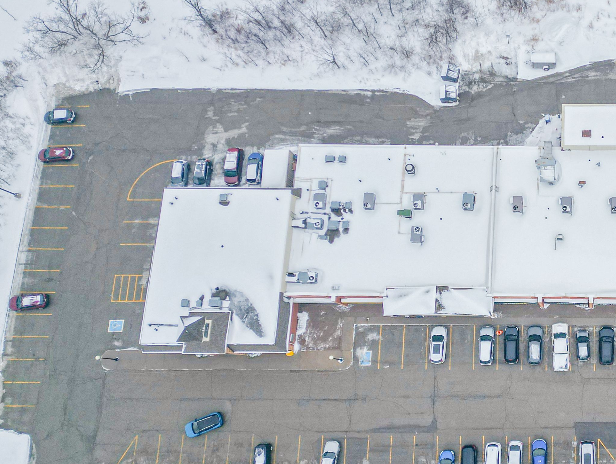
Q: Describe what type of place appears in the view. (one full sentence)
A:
The area seen from above is a parking lot.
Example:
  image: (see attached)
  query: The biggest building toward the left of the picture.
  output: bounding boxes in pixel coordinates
[138,187,307,356]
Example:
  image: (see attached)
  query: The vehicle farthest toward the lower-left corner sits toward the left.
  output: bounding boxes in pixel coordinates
[8,292,52,311]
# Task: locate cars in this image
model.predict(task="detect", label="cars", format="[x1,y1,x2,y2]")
[185,411,226,438]
[321,441,341,464]
[484,442,501,464]
[598,327,616,365]
[437,450,456,464]
[8,292,52,311]
[530,439,549,464]
[503,327,521,364]
[169,160,189,187]
[221,147,244,187]
[429,327,447,364]
[462,445,479,464]
[191,159,213,187]
[255,442,275,464]
[43,109,78,126]
[246,153,263,186]
[39,146,77,163]
[476,327,496,365]
[507,441,523,464]
[575,330,592,362]
[525,327,545,365]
